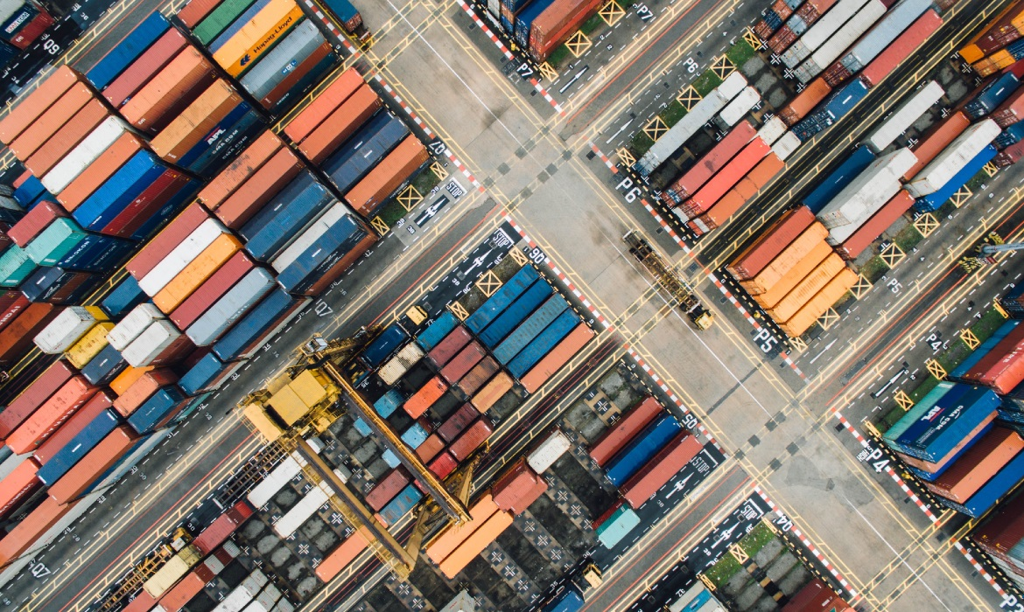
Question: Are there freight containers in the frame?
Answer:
Yes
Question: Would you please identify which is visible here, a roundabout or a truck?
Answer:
truck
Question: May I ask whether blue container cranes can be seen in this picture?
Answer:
No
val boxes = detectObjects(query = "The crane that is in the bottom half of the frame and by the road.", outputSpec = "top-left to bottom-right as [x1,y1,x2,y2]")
[240,321,487,585]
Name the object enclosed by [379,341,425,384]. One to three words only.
shipping container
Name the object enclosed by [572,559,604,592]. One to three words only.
truck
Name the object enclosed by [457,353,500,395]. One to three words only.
shipping container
